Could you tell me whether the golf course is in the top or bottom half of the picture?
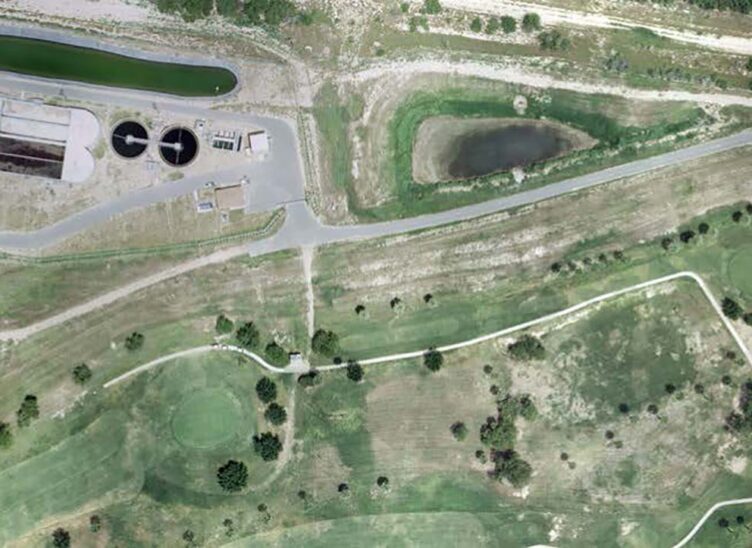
bottom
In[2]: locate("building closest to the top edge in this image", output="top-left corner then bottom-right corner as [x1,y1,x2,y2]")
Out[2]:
[248,131,269,152]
